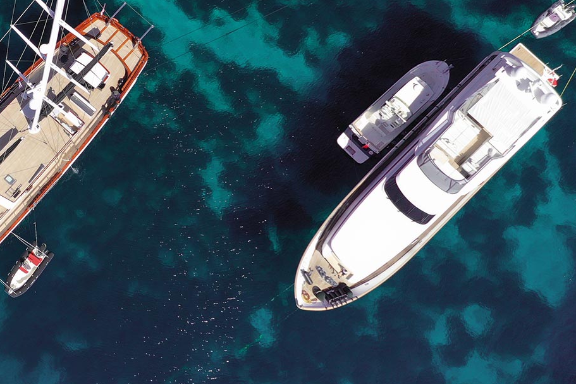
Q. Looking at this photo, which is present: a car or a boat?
boat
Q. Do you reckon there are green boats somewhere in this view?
No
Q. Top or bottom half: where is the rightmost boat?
top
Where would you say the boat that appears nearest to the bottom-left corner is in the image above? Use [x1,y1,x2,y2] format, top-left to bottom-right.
[4,242,55,299]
